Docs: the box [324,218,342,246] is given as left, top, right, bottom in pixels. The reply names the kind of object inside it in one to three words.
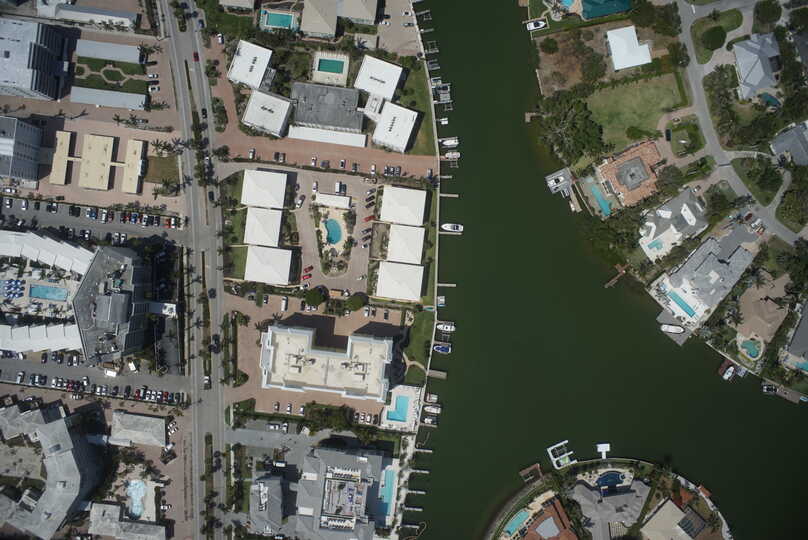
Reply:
swimming pool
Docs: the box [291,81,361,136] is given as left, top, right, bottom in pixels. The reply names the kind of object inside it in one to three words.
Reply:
building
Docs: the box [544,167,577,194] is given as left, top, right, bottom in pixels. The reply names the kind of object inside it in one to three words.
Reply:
pier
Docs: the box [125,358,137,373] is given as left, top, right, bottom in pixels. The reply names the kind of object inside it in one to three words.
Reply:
vehicle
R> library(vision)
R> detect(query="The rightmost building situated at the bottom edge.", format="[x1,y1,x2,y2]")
[640,500,693,540]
